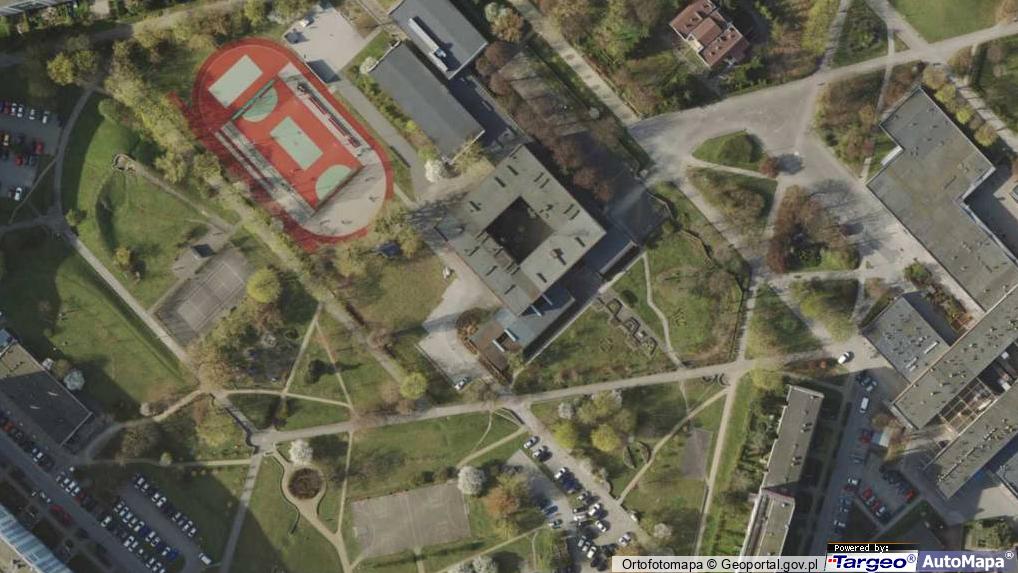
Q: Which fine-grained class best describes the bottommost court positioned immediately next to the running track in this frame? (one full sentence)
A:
It turns out the bottommost court positioned immediately next to the running track is a tennis court.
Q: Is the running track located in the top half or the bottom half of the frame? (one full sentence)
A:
The running track is in the top half of the image.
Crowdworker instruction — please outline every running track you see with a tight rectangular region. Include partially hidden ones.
[168,36,395,249]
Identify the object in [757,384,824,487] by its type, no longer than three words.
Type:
building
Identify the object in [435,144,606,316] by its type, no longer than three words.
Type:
building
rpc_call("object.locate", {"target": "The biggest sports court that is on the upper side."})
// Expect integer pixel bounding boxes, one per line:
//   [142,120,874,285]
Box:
[215,63,385,236]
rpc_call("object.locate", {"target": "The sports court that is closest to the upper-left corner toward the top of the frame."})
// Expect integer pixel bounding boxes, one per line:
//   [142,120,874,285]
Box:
[208,55,262,107]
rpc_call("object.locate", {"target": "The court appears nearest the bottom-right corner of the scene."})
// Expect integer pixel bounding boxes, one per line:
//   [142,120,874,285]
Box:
[681,430,712,479]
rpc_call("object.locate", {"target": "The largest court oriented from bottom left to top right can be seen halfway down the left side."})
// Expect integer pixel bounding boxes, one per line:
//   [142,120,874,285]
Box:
[154,247,260,345]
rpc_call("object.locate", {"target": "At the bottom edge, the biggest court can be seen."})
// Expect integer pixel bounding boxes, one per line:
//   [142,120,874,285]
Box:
[352,482,471,558]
